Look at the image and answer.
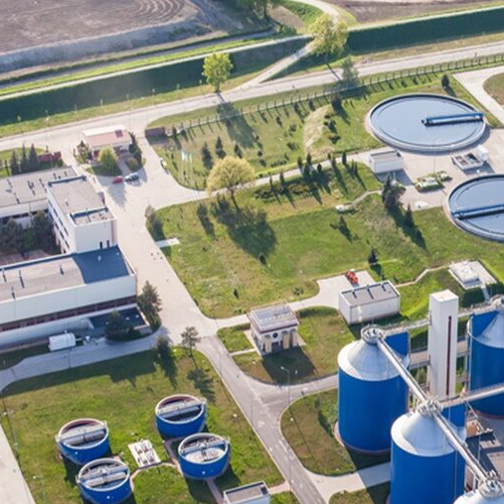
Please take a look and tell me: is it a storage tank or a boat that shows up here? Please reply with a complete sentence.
It is a storage tank that can be seen here.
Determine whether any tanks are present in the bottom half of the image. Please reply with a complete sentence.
Yes, a tank appears in the bottom half of the image.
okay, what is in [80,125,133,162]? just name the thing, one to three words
building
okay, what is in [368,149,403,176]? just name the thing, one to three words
shed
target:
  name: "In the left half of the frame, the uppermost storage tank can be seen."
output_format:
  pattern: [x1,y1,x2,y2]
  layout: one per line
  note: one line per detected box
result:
[154,393,210,442]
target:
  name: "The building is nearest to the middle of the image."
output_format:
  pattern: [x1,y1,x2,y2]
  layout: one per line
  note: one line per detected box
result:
[246,301,303,354]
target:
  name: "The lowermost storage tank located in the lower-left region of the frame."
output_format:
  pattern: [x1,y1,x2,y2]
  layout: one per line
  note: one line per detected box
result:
[74,459,135,504]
